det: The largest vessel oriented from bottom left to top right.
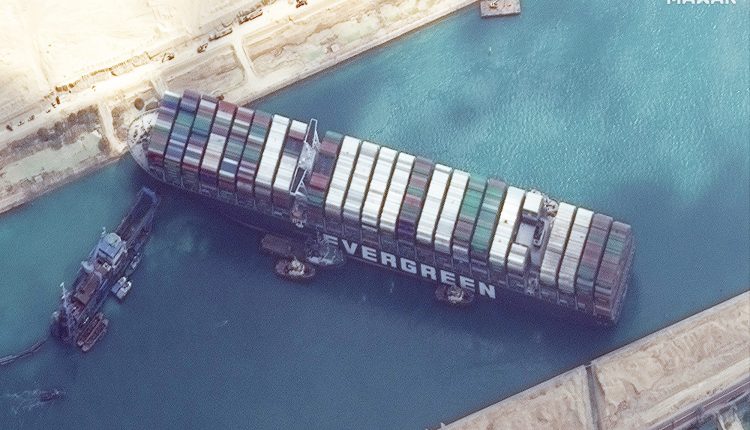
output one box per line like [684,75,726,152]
[46,180,158,338]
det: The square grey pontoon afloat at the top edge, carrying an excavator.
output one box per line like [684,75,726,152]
[481,0,522,21]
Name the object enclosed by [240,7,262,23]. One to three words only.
vehicle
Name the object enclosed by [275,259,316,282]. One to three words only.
boat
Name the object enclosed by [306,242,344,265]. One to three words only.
boat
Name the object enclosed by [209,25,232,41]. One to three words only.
vehicle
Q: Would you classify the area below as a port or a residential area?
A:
port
